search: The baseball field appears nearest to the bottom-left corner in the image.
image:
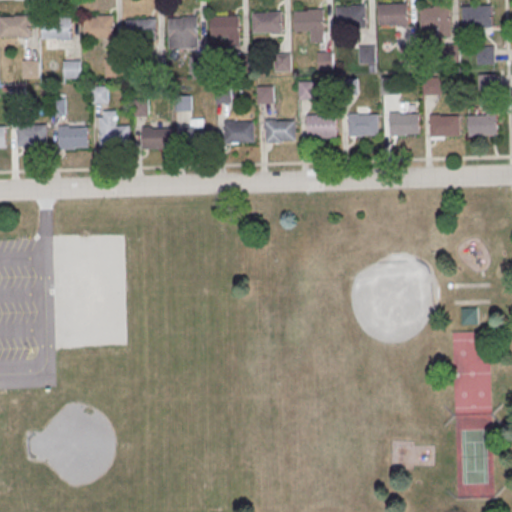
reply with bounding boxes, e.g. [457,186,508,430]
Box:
[26,401,118,488]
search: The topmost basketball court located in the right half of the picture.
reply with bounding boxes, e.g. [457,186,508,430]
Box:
[453,332,492,414]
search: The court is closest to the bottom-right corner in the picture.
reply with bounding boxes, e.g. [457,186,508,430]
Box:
[457,415,494,498]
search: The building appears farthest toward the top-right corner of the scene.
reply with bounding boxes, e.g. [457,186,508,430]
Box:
[461,6,495,28]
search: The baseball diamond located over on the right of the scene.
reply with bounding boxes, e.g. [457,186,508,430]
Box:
[350,250,442,344]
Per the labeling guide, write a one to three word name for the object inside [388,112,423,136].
house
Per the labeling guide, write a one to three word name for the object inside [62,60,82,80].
building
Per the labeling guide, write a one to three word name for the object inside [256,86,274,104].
building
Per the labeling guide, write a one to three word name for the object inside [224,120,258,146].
house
